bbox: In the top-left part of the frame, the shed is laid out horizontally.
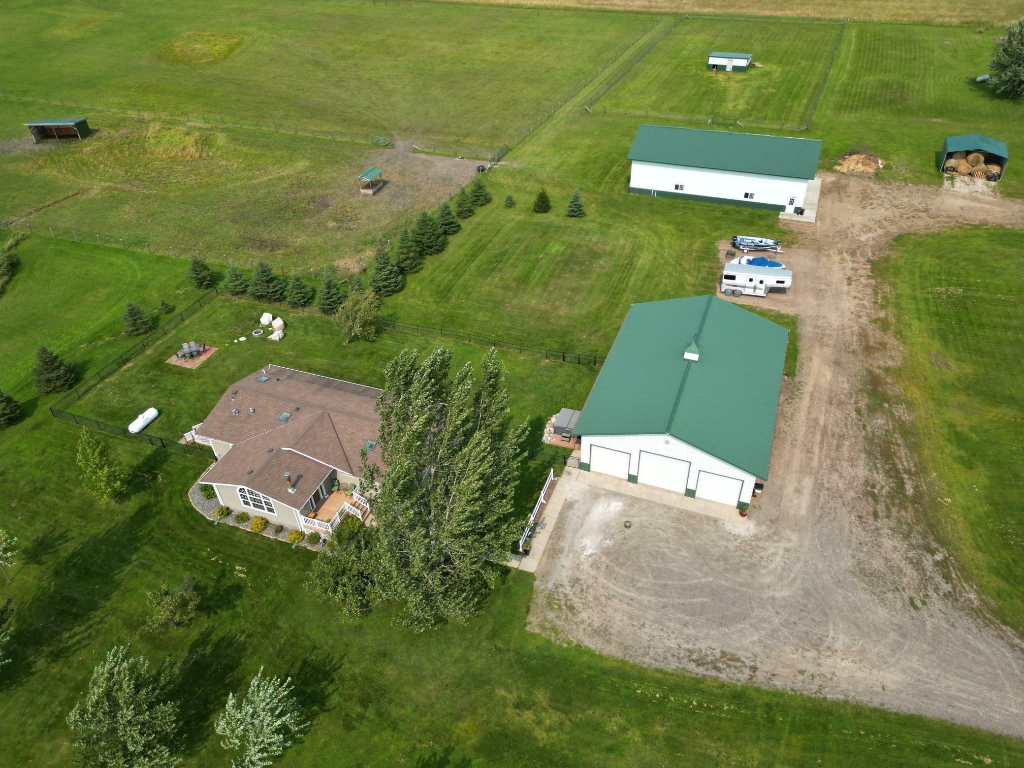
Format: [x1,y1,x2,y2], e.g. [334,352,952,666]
[19,119,90,143]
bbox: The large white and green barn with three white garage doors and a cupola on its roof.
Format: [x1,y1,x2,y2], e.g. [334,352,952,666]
[572,295,790,509]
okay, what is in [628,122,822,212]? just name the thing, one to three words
shed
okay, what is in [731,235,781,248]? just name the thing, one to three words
boat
